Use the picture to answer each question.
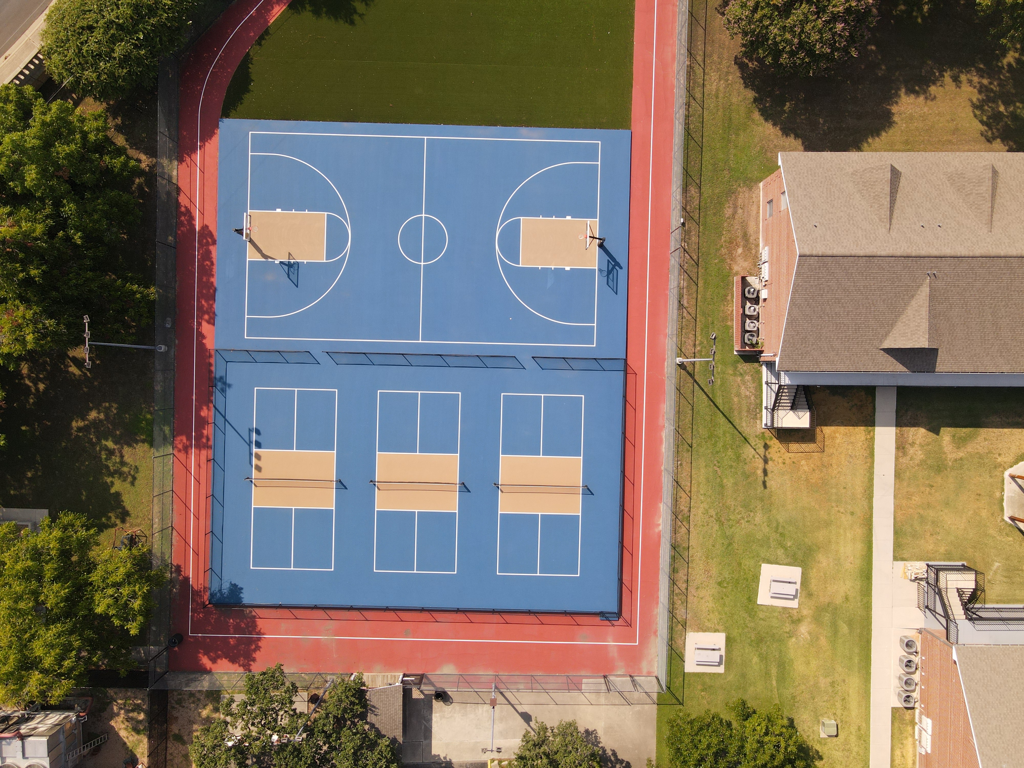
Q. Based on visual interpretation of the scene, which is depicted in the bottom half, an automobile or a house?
house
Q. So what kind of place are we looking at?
sports ground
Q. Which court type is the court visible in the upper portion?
basketball court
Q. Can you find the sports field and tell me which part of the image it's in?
top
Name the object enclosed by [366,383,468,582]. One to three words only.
sports court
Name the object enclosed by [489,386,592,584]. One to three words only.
sports court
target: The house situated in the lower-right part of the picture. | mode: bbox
[915,603,1024,768]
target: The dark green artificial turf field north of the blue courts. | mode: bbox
[220,0,635,129]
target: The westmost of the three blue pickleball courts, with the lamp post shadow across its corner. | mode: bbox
[242,380,345,579]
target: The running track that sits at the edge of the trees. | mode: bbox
[169,0,678,690]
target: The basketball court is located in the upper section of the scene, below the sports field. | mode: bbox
[213,118,632,359]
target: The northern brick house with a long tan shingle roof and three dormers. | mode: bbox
[758,150,1024,386]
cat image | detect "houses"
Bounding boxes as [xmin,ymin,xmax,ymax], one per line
[915,603,1024,768]
[758,150,1024,386]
